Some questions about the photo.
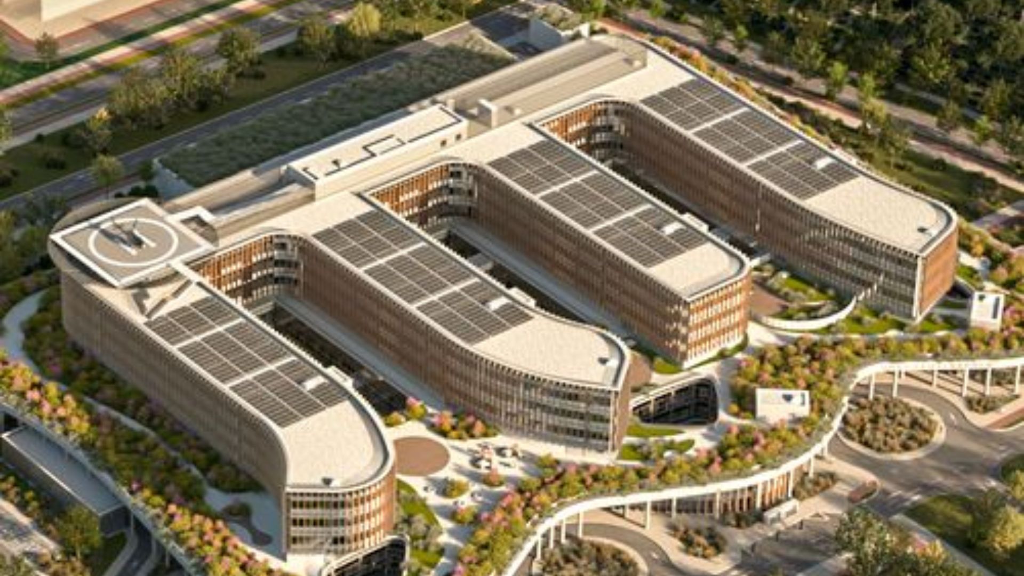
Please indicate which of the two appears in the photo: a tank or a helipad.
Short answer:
helipad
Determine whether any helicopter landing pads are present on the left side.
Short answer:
Yes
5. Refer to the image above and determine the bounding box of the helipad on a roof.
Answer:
[62,202,208,282]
